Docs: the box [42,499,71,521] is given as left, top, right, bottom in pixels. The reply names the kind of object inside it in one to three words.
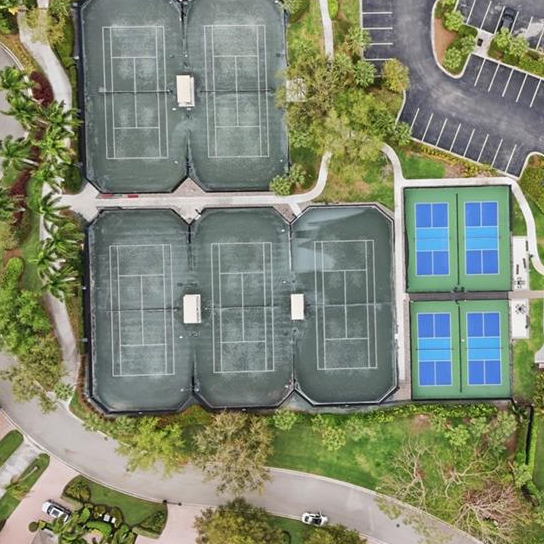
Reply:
car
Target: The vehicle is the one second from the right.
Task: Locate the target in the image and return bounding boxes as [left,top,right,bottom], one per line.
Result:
[301,511,328,526]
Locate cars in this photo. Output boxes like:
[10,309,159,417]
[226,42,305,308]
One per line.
[497,6,513,33]
[42,499,71,521]
[301,511,328,526]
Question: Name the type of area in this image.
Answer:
sports ground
